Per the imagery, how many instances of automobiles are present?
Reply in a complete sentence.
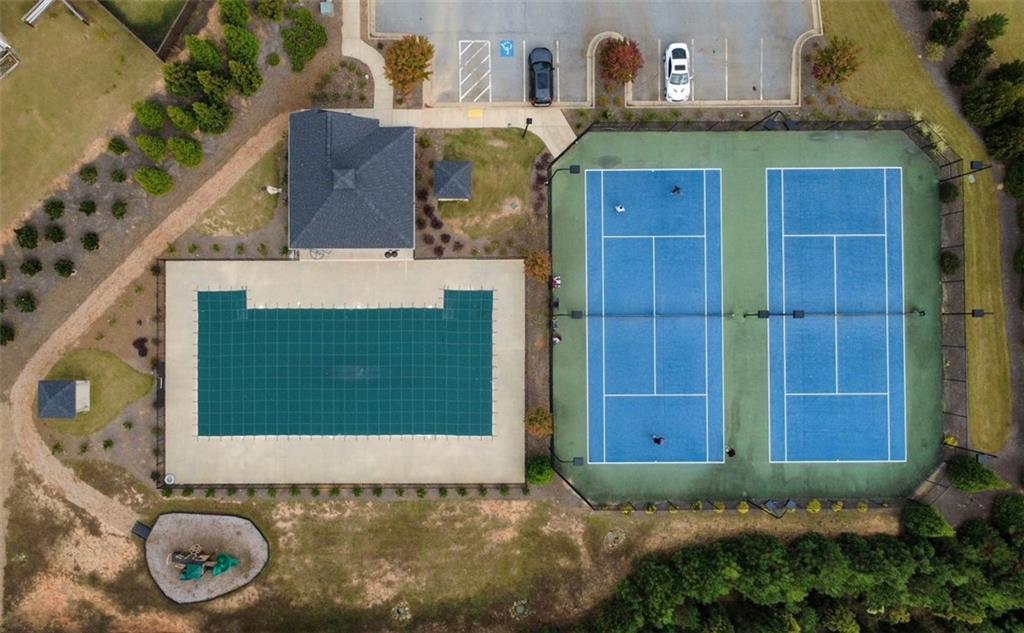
In total, 2 automobiles can be seen.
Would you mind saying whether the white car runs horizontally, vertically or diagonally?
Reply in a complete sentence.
The white car is oriented vertically.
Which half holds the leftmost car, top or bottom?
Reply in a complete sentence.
You can find the leftmost car in the top half.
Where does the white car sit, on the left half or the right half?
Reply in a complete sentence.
The white car sits on the right side.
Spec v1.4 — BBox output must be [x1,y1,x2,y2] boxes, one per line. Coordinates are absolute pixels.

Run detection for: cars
[528,48,555,107]
[667,42,695,103]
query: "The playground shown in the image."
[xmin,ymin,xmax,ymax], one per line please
[130,512,270,606]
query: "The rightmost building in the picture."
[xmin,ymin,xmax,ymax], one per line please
[433,161,473,202]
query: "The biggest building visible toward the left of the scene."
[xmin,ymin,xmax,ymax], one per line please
[287,108,415,249]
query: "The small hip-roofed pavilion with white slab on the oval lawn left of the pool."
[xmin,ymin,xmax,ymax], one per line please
[38,380,90,418]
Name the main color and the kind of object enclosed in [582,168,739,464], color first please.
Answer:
blue tennis court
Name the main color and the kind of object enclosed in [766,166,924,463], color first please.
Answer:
blue tennis court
